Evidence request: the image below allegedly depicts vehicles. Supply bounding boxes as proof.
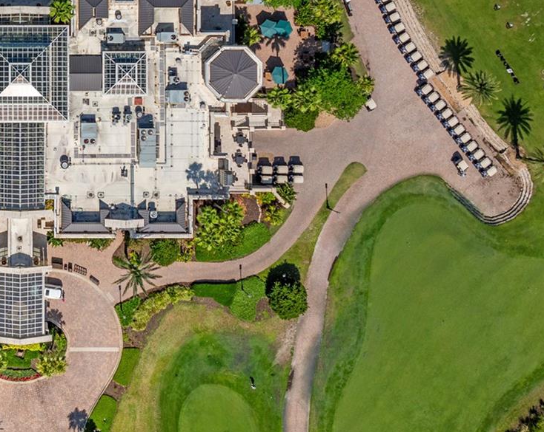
[287,163,304,172]
[458,139,479,154]
[49,284,68,298]
[256,174,274,183]
[271,174,289,183]
[382,10,402,24]
[434,105,454,120]
[449,155,469,172]
[472,155,493,170]
[478,164,499,178]
[397,40,417,54]
[272,164,289,172]
[387,20,406,35]
[286,174,303,183]
[409,58,429,72]
[361,96,377,112]
[414,67,435,80]
[377,0,397,14]
[256,164,274,173]
[420,90,440,104]
[403,50,422,64]
[391,30,411,44]
[453,131,473,146]
[440,113,461,128]
[465,147,485,162]
[446,122,466,137]
[416,81,435,97]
